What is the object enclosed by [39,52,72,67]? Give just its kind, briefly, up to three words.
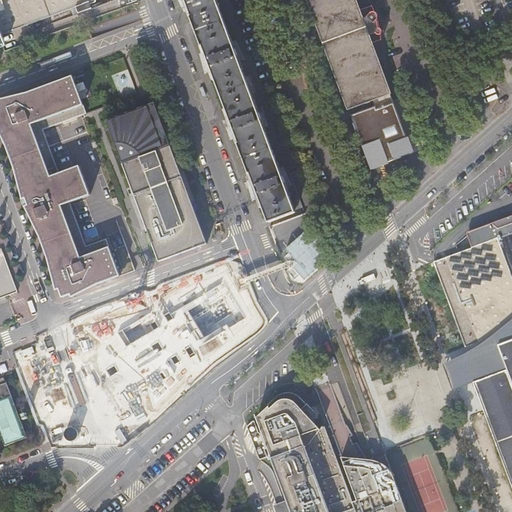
vehicle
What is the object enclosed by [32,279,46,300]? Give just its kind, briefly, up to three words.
vehicle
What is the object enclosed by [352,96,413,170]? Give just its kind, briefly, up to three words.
building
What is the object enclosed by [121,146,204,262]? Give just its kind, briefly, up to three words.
building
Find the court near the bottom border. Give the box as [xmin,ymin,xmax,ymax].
[378,436,462,512]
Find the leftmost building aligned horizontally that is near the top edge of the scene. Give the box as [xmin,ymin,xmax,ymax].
[8,0,78,29]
